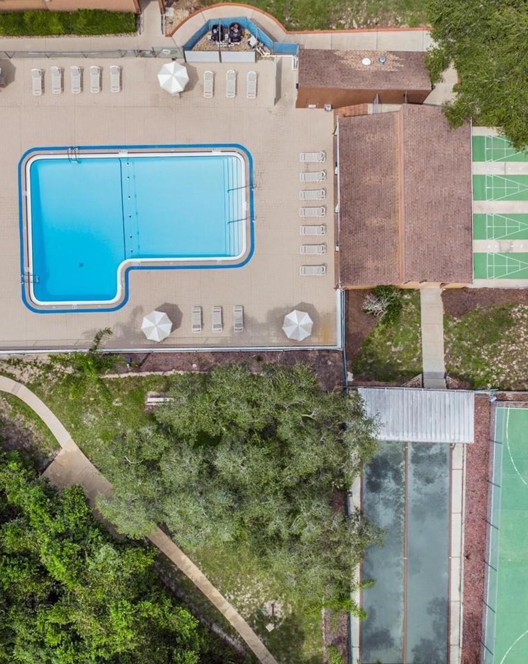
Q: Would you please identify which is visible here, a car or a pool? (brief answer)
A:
pool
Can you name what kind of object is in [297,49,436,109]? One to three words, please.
building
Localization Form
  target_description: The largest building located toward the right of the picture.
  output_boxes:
[329,105,474,290]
